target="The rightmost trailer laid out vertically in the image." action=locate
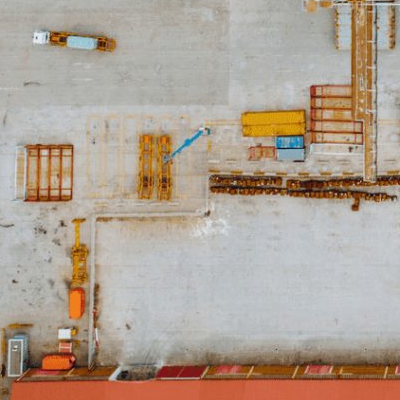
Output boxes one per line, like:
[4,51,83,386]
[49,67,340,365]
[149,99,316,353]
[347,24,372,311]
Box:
[156,134,174,200]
